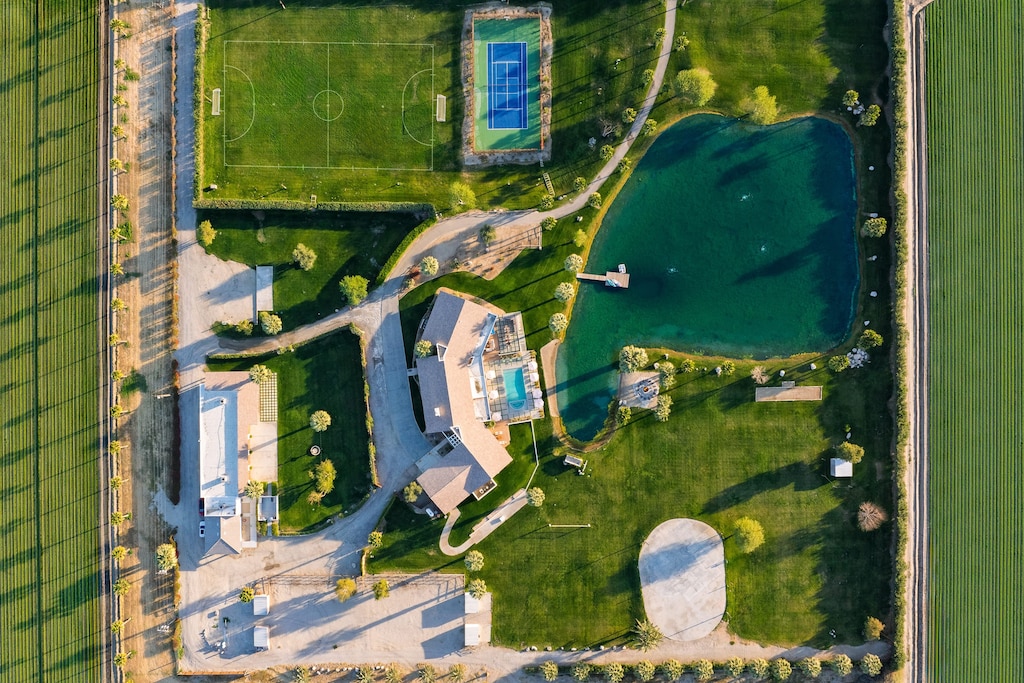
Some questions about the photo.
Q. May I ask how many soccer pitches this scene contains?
1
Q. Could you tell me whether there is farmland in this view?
Yes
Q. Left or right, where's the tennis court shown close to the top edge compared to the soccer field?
right of it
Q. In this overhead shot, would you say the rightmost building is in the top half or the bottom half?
bottom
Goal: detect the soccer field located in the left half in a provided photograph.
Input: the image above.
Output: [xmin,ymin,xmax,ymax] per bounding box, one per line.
[205,3,460,202]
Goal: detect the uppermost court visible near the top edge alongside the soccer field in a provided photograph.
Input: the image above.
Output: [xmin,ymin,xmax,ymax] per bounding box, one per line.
[474,15,542,151]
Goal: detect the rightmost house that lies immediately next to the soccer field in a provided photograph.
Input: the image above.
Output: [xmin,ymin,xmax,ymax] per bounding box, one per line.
[408,292,513,515]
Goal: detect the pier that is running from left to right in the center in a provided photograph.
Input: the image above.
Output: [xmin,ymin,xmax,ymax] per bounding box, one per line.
[577,271,630,288]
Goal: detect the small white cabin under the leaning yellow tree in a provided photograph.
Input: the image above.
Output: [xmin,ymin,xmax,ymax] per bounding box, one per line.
[827,457,852,477]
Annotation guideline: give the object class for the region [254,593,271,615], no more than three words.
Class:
shed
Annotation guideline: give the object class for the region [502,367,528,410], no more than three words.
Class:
swimming pool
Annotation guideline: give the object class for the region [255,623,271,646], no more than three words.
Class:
shed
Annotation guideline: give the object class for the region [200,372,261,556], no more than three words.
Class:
house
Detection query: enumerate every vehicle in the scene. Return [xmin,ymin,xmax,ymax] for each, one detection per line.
[199,521,205,537]
[197,498,204,516]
